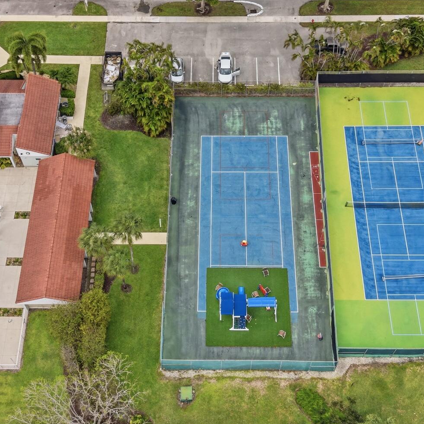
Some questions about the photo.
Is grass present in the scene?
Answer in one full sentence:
Yes, there's grass in this view.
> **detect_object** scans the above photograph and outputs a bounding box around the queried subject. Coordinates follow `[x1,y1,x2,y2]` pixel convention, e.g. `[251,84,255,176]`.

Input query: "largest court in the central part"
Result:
[163,97,332,368]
